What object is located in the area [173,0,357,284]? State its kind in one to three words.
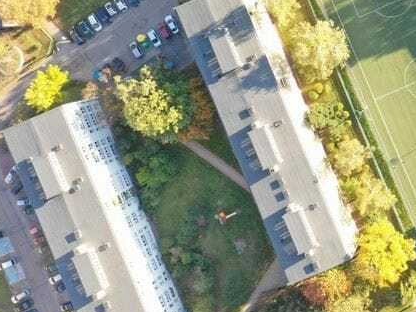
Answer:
building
